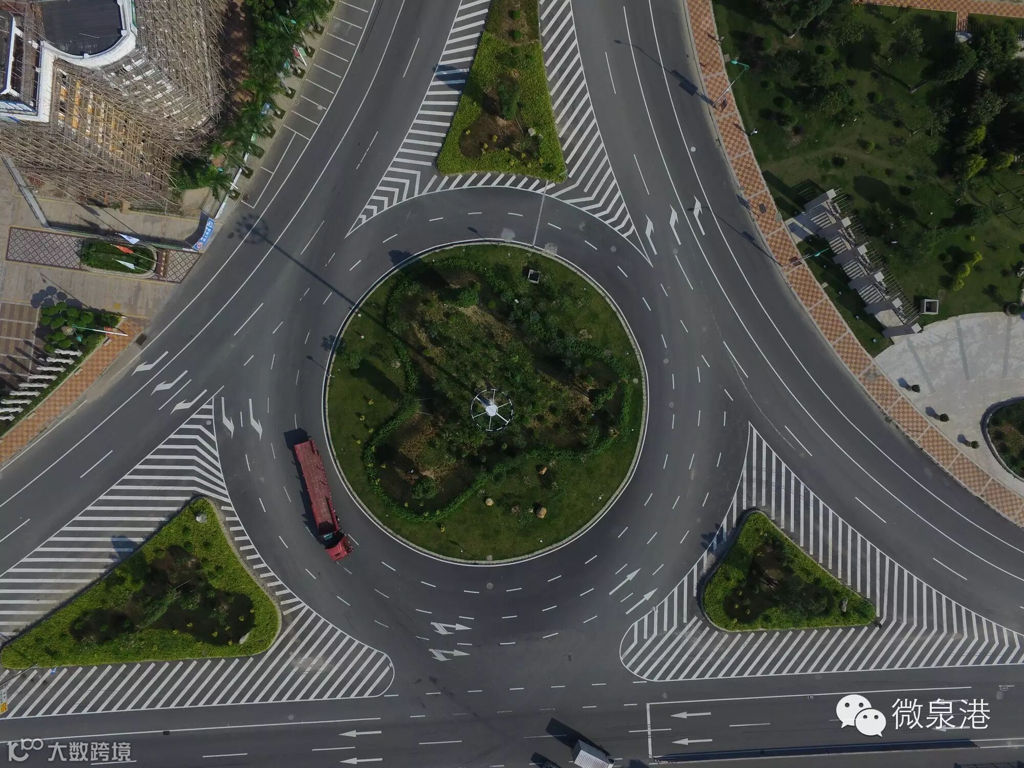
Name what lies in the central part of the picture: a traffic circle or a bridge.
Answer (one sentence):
There is a traffic circle in the central part of the picture.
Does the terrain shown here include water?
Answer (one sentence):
No, no water is visible.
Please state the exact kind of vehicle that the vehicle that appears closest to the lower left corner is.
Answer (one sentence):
I'd identify the vehicle that appears closest to the lower left corner as a truck.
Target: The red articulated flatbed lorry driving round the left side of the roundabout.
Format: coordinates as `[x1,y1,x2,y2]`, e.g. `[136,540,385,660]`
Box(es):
[295,439,358,564]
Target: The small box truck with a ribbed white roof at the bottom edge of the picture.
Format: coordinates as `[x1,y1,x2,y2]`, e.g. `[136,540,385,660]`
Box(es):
[573,737,620,768]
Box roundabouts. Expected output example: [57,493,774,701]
[270,190,697,617]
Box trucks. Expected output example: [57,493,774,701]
[573,737,620,768]
[295,439,358,564]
